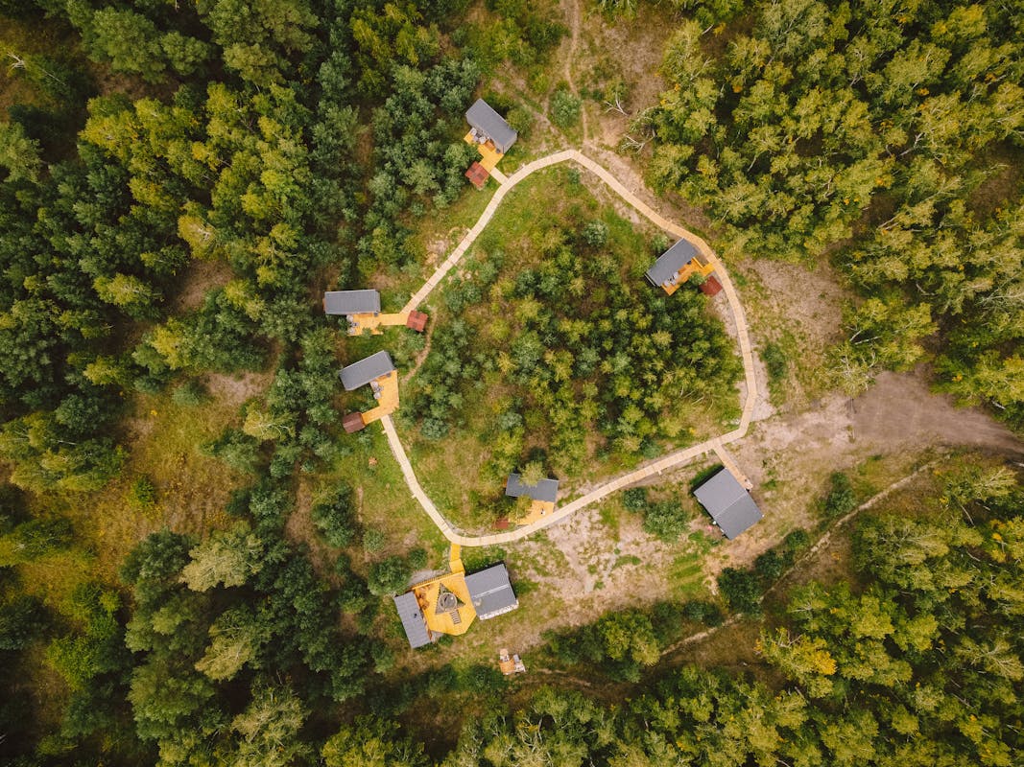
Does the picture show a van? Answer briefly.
No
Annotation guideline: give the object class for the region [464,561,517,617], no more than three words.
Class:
house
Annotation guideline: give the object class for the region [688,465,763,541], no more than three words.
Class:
building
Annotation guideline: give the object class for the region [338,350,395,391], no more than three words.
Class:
building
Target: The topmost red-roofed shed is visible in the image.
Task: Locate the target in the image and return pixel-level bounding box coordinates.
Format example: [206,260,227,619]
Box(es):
[465,163,490,189]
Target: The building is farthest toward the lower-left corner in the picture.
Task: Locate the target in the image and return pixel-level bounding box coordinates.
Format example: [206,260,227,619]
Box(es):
[394,587,432,649]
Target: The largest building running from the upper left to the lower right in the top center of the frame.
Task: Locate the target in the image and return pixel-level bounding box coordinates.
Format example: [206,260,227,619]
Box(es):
[466,97,517,152]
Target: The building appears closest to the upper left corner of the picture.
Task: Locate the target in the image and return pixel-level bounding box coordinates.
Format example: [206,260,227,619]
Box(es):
[322,289,381,315]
